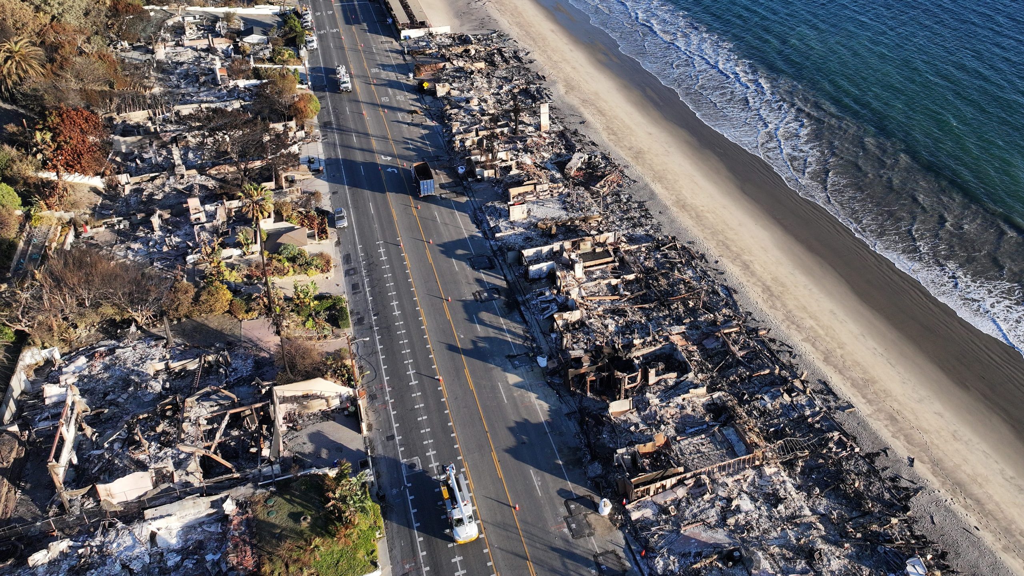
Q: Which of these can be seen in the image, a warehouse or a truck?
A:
truck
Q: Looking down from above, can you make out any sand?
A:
Yes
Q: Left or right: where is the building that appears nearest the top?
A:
left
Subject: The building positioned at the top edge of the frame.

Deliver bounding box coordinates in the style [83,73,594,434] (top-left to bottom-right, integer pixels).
[236,18,268,43]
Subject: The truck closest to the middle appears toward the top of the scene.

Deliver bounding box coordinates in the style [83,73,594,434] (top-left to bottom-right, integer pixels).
[408,157,434,195]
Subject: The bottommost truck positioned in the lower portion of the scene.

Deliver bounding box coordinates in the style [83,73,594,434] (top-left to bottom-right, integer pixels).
[430,447,475,541]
